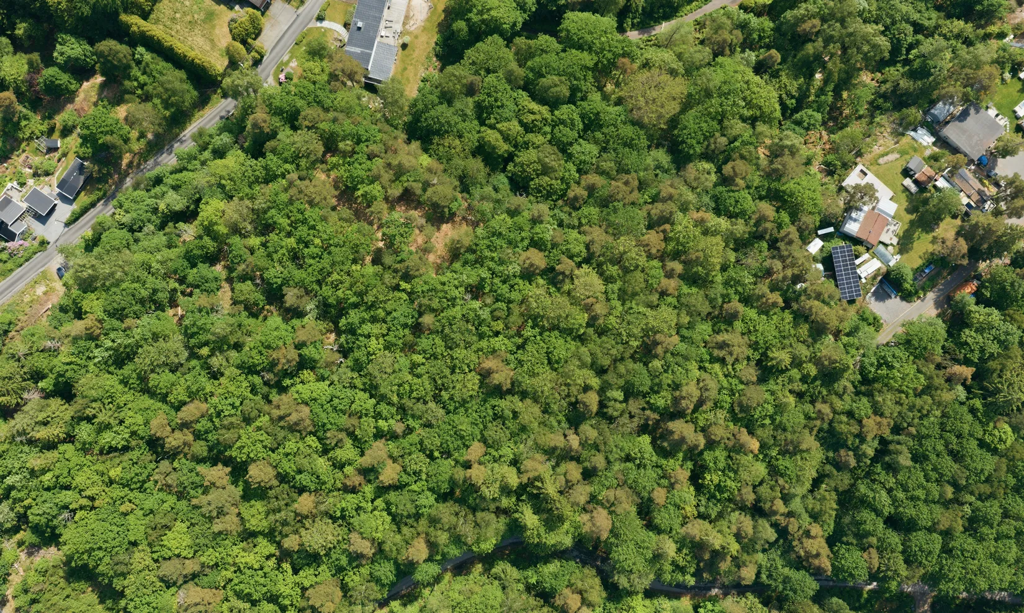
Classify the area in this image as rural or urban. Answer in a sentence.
The area shown here is rural.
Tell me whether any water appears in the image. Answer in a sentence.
No, no water is visible.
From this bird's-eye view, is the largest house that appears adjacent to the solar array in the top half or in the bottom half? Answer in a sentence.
You can find the largest house that appears adjacent to the solar array in the top half.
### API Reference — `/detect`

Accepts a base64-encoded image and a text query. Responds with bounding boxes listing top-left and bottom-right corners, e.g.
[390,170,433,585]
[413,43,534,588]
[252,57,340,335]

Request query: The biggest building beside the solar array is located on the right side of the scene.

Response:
[841,163,897,250]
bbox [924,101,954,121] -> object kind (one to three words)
shed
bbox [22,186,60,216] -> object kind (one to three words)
building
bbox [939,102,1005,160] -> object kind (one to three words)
house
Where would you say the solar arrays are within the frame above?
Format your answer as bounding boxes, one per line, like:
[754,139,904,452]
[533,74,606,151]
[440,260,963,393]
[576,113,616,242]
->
[832,244,862,300]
